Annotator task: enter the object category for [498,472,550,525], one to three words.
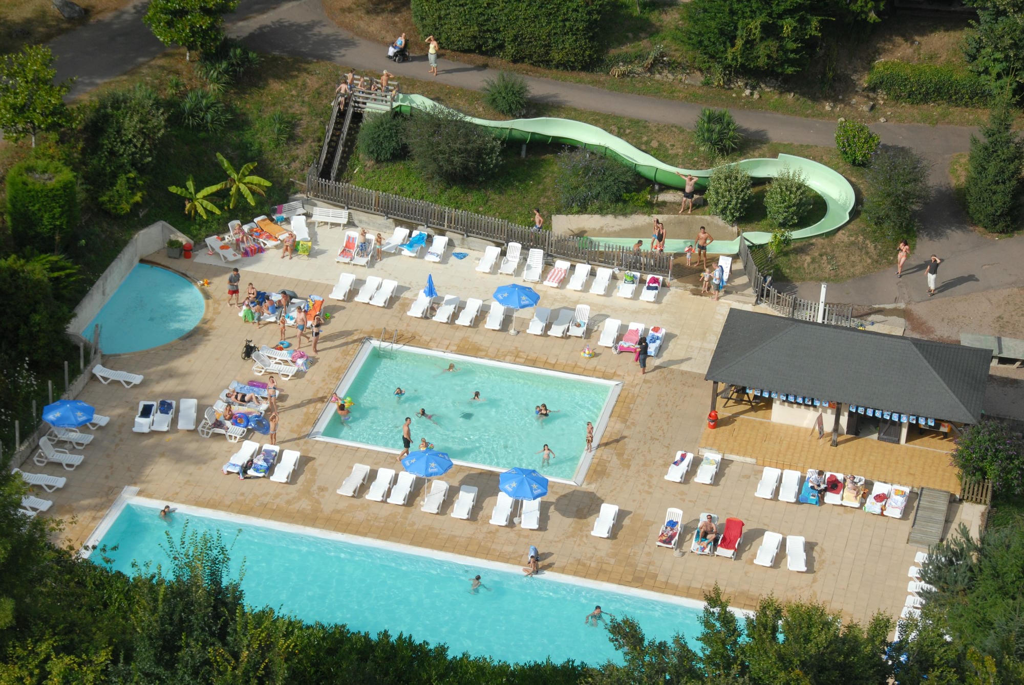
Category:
umbrella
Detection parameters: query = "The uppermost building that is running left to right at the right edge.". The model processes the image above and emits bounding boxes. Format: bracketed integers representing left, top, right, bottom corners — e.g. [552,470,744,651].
[703,306,994,467]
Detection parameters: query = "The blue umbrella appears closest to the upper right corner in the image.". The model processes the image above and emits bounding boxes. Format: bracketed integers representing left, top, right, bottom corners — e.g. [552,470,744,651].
[493,288,539,335]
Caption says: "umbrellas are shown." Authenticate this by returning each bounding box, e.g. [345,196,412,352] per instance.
[493,288,539,335]
[399,450,454,508]
[41,400,96,451]
[420,271,439,318]
[498,472,550,525]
